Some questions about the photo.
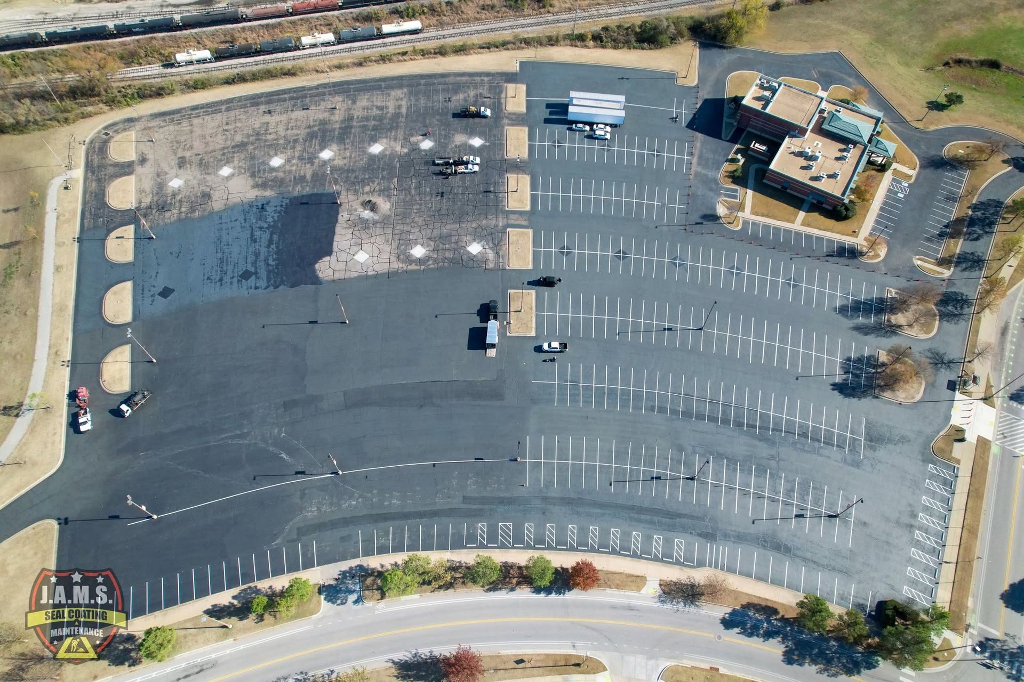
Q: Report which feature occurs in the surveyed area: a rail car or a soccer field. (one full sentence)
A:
I can see a rail car in this picture.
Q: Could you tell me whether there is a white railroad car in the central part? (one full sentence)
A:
No, no white railroad car appears in the central part.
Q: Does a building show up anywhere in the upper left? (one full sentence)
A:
No, I can find no building in the upper left.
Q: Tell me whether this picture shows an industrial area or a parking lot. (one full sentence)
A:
This image shows a parking lot.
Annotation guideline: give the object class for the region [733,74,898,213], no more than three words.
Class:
building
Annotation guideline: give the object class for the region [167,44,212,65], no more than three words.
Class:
rail car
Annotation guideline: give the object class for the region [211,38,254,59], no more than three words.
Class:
rail car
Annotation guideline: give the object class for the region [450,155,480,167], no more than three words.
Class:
vehicle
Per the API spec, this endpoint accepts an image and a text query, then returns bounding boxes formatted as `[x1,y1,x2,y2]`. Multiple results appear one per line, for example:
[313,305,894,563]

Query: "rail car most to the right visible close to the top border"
[378,16,424,37]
